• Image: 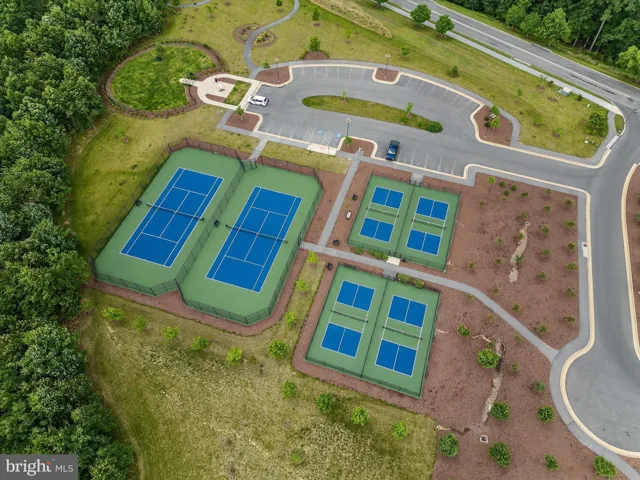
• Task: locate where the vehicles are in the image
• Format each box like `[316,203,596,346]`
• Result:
[248,96,268,107]
[387,139,401,160]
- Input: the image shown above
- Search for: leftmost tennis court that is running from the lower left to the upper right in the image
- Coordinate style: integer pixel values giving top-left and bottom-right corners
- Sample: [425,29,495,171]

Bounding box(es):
[94,148,245,298]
